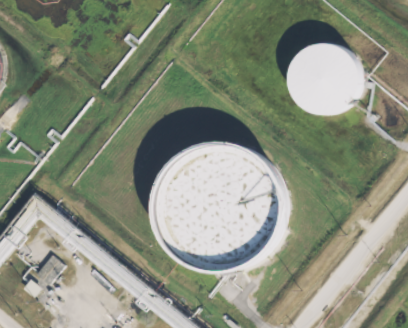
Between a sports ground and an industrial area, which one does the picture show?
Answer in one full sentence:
The area seen from above is an industrial area.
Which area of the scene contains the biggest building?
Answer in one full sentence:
The biggest building is in the bottom left part of the image.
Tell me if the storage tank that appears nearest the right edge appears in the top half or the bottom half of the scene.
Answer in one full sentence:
The top half of the photo is where the storage tank that appears nearest the right edge is.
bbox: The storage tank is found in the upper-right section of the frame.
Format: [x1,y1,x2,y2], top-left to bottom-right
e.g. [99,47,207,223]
[286,42,366,118]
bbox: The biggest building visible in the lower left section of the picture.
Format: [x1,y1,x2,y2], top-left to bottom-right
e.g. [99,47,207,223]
[38,254,68,286]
